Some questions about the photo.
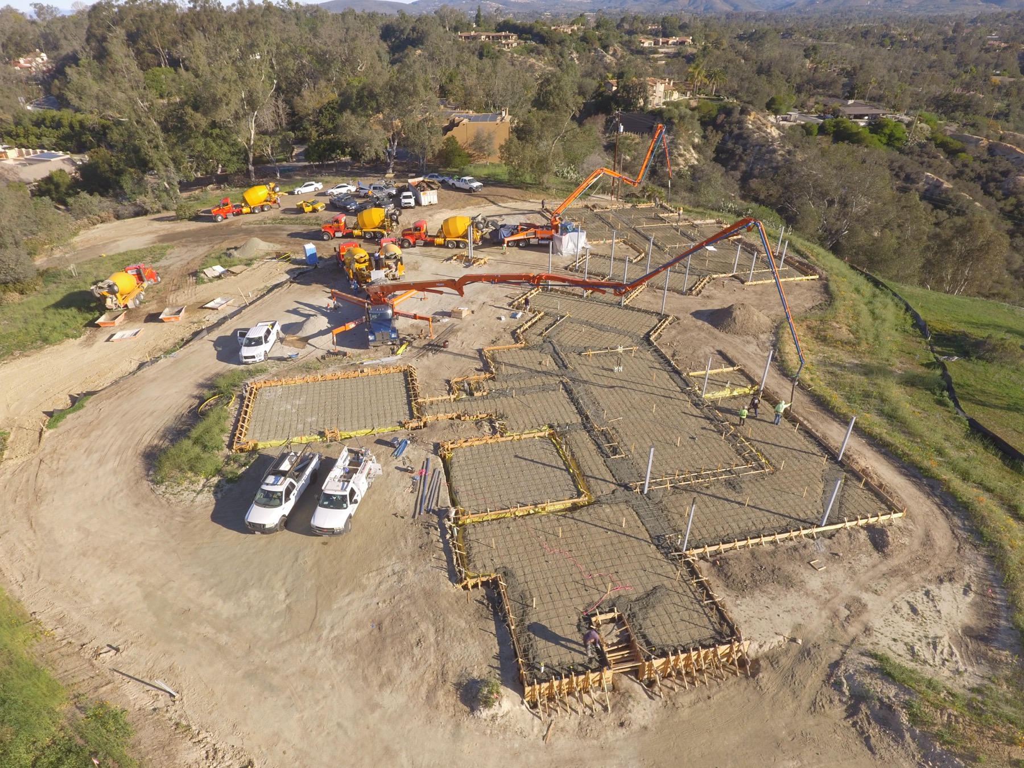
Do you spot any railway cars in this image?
No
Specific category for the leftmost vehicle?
truck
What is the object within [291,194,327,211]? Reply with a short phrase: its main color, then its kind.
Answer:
yellow vehicle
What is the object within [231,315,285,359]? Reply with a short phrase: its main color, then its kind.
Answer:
white truck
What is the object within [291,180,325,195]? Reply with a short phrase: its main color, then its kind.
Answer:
white car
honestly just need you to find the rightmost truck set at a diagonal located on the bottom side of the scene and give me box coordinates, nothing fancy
[312,432,399,533]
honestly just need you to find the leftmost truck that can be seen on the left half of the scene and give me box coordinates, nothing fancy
[88,253,164,307]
